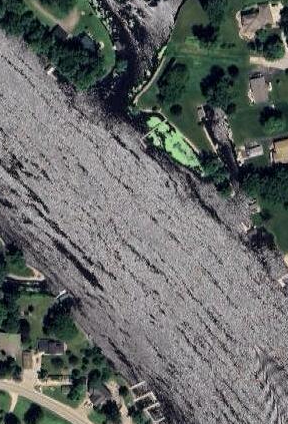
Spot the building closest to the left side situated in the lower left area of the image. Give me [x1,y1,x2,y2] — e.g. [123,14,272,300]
[0,332,21,356]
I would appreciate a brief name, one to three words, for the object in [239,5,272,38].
house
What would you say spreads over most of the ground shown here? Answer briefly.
water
